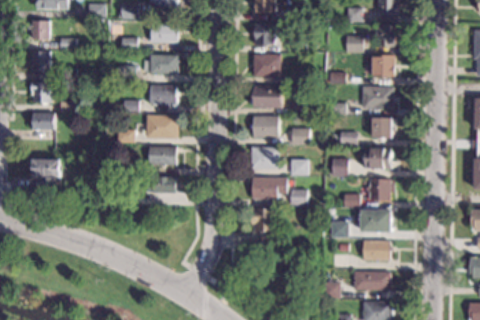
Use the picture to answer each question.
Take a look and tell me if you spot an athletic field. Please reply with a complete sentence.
No, there appears to be no athletic field in this shot.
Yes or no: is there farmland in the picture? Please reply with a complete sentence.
No, farmland can't be seen anywhere here.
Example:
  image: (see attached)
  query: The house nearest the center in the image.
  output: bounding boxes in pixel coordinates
[250,147,280,172]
